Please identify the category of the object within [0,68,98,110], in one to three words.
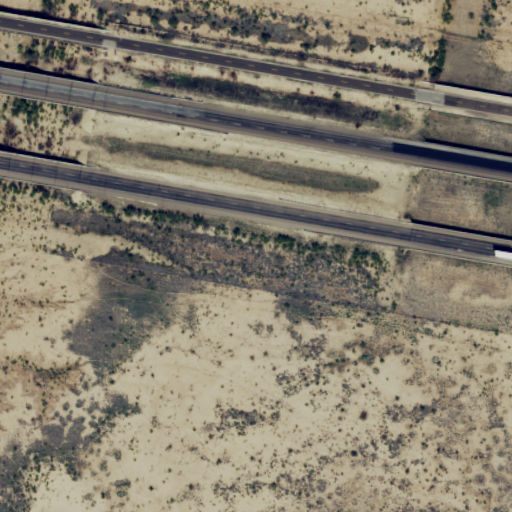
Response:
bridge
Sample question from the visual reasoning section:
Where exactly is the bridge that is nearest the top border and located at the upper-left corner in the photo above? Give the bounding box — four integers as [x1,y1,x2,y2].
[0,12,104,49]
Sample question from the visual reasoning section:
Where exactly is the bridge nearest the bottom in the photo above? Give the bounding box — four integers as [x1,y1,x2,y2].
[408,222,512,268]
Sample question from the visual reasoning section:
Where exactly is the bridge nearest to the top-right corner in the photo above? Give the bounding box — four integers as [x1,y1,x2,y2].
[430,84,512,126]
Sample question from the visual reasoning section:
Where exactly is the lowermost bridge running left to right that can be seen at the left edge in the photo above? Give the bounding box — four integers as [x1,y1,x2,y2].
[0,151,84,192]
